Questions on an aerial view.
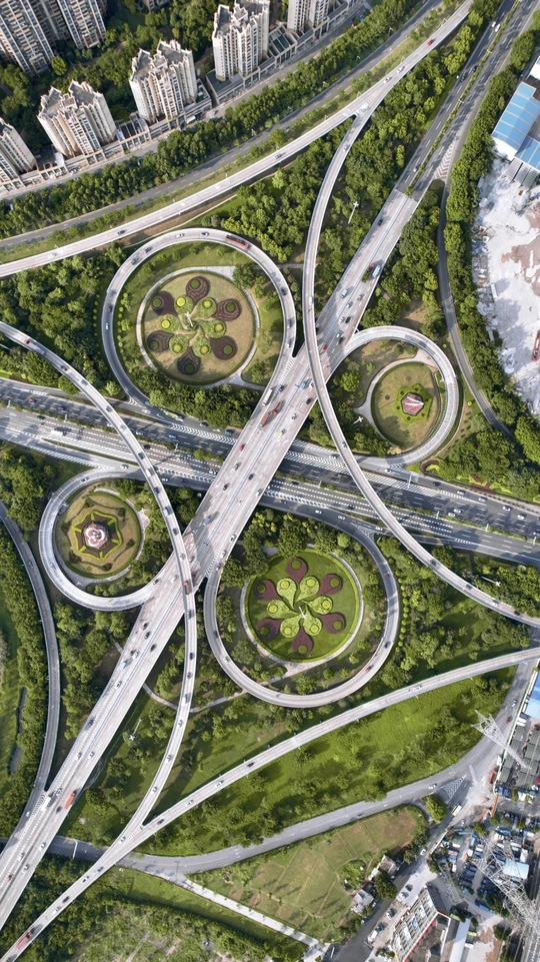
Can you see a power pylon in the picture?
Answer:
Yes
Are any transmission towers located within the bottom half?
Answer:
Yes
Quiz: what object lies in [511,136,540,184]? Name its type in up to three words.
building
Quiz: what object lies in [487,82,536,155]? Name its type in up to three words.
building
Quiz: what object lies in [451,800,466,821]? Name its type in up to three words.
vehicle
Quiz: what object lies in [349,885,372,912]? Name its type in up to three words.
house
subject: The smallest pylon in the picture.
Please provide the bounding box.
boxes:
[424,850,458,906]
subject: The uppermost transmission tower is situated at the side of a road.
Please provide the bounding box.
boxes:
[469,709,528,770]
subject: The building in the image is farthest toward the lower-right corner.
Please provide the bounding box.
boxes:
[441,914,471,962]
